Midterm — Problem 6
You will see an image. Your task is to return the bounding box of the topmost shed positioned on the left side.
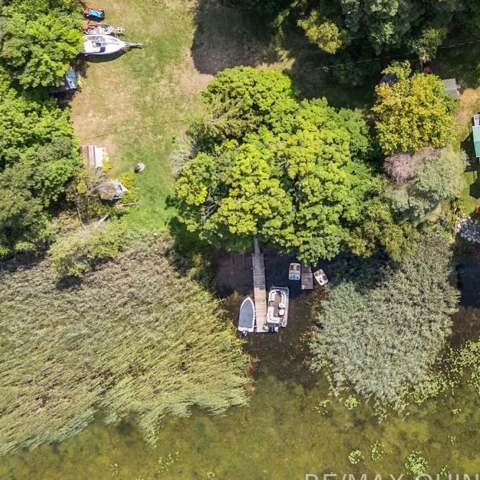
[79,146,110,168]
